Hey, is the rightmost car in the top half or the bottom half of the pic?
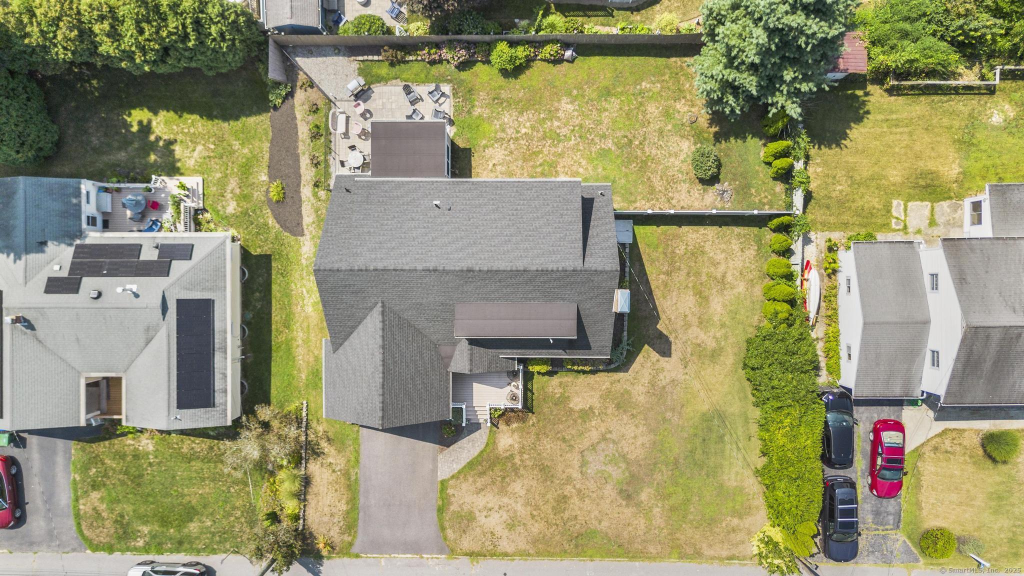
bottom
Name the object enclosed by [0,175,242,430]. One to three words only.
house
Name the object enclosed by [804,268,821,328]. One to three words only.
boat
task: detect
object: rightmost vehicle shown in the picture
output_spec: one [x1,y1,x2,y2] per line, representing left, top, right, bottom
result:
[863,417,906,497]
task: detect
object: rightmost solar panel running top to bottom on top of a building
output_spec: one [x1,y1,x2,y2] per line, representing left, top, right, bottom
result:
[177,299,213,410]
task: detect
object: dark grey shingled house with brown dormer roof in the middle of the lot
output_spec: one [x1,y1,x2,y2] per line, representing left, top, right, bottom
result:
[314,120,630,429]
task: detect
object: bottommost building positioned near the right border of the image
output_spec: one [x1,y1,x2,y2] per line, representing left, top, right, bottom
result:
[837,182,1024,407]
